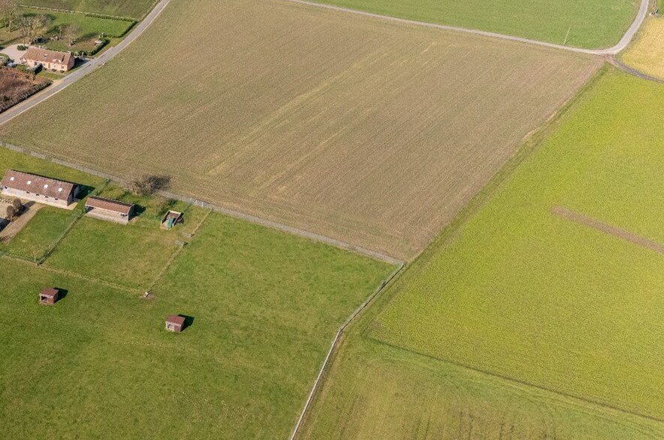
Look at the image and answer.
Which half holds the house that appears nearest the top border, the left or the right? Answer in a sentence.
The house that appears nearest the top border appears in the left half of the scene.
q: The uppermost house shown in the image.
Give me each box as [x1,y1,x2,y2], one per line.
[21,49,74,72]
